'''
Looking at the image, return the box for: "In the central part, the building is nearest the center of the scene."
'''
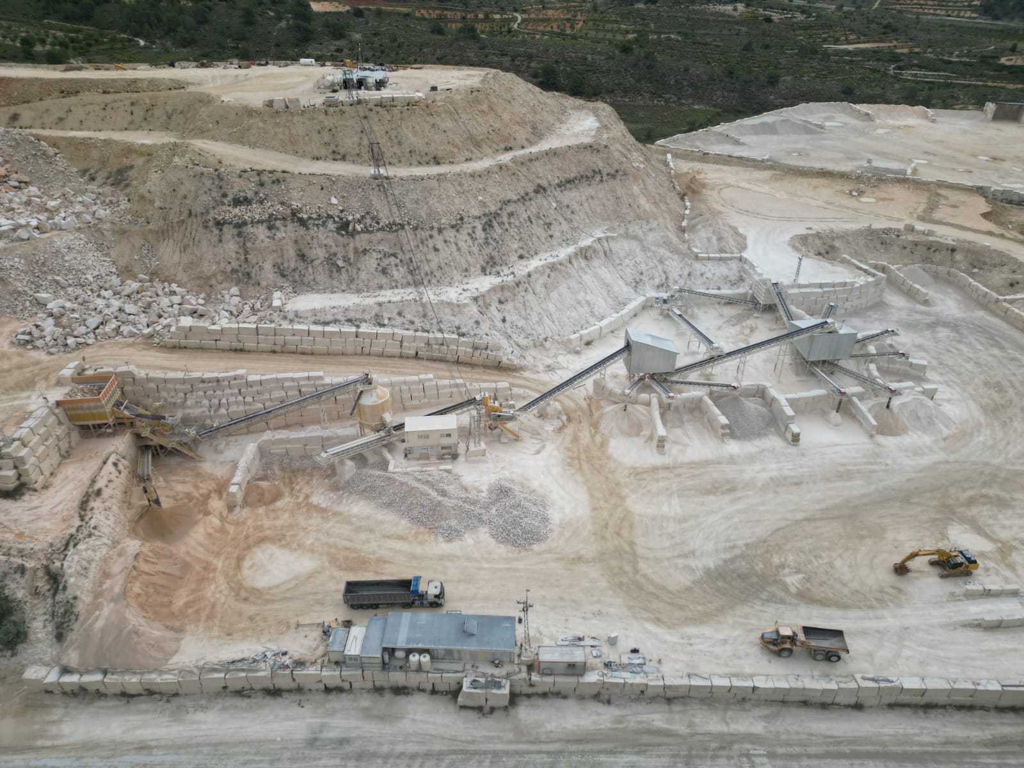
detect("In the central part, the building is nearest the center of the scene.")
[401,416,458,461]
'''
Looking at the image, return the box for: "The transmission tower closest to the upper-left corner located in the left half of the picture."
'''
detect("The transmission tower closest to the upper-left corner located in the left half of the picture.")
[341,60,353,98]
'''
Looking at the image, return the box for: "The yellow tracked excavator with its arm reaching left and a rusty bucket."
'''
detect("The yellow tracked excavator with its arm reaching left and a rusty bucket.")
[896,545,989,582]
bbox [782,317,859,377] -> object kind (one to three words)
house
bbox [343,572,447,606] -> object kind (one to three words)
truck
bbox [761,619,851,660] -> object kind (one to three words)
truck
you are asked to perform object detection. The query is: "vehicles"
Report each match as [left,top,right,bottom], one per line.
[761,619,851,660]
[896,545,989,582]
[343,572,447,606]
